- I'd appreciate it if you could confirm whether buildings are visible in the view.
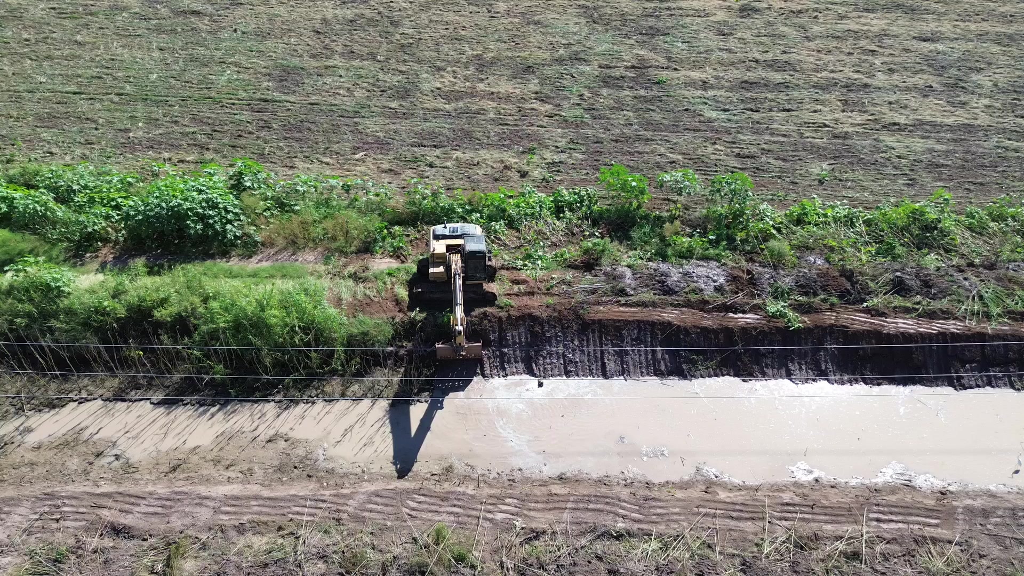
No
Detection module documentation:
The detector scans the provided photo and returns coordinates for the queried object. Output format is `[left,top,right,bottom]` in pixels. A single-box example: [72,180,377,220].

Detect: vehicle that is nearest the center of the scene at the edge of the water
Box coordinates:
[412,218,499,358]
